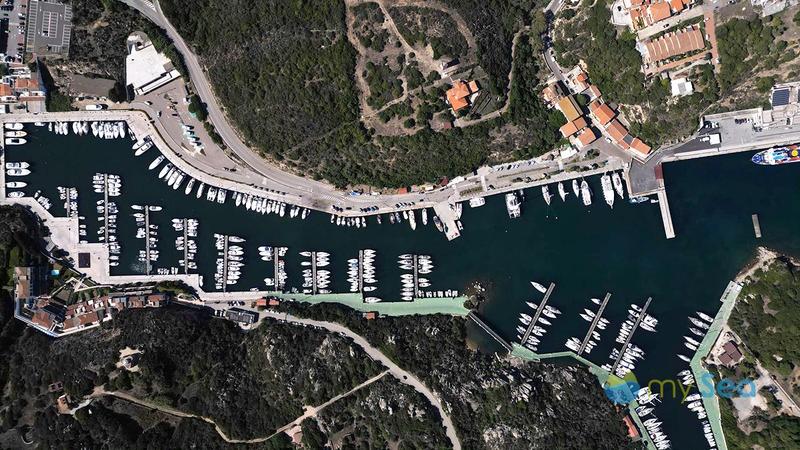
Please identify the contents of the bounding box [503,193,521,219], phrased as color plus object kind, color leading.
white boat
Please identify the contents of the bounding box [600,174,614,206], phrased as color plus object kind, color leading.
white boat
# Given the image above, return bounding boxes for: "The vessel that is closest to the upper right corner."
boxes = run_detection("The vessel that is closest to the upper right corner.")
[753,145,800,166]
